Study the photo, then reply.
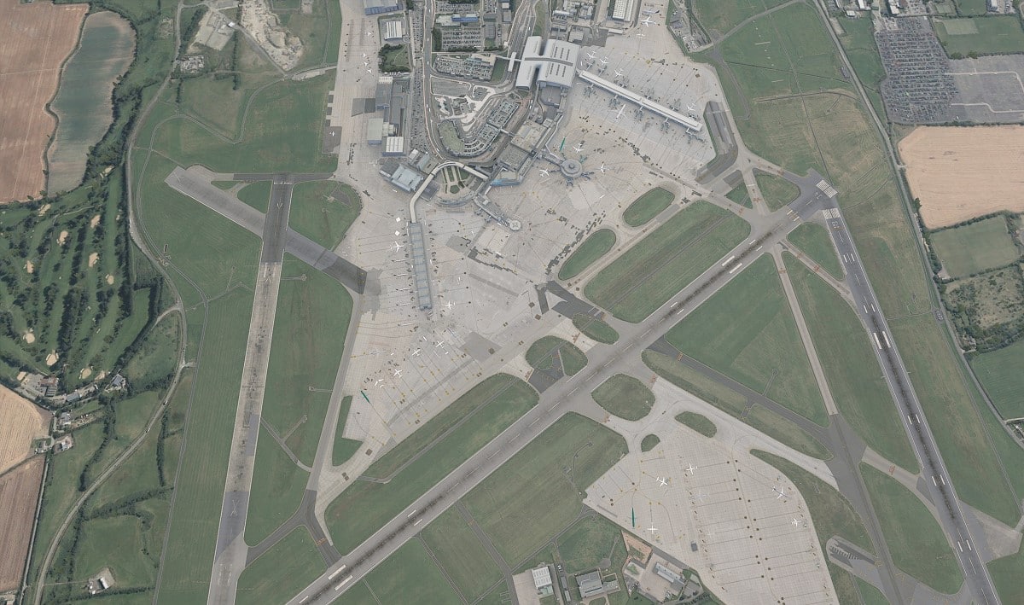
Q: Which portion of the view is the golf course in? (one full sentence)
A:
You can find the golf course in the left area of the picture.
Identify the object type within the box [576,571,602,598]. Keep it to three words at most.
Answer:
building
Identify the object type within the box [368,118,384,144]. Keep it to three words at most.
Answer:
hangar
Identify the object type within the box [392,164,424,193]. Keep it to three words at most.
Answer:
hangar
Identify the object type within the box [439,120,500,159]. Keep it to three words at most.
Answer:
building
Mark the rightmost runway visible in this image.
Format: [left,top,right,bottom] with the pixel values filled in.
[818,209,1005,605]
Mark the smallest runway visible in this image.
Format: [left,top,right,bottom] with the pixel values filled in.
[165,166,366,294]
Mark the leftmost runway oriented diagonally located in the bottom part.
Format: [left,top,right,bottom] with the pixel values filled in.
[290,183,831,605]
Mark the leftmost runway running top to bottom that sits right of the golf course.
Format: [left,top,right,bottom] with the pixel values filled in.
[207,176,294,605]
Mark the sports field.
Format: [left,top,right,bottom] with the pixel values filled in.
[933,15,1024,56]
